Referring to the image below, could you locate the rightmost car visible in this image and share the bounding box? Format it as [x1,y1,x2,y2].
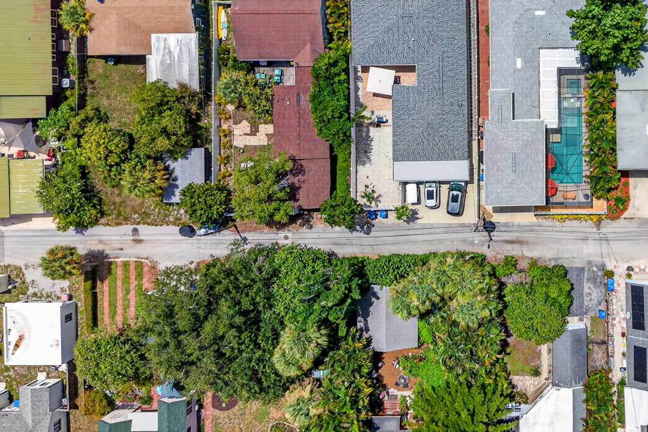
[447,180,469,218]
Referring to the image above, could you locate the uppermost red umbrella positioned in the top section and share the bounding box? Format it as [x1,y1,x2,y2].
[544,154,557,171]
